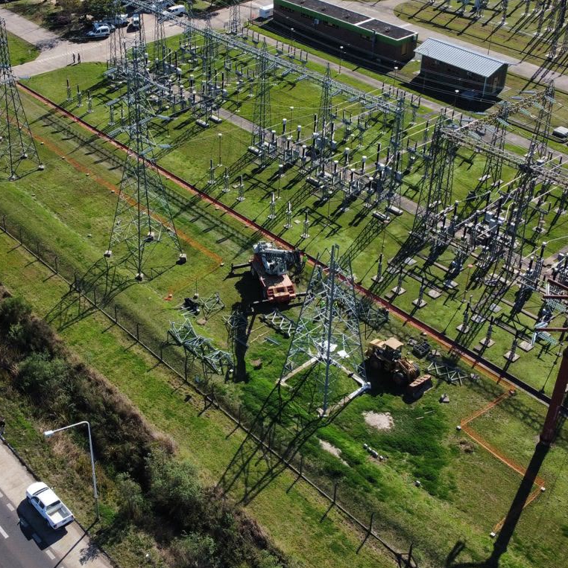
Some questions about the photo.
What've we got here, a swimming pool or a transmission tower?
transmission tower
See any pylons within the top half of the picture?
Yes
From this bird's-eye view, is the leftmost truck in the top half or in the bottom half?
bottom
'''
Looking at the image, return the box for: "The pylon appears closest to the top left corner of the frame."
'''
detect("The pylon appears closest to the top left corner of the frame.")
[0,15,47,179]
